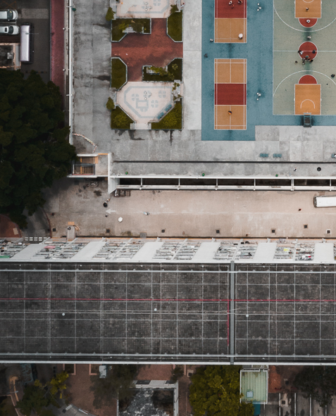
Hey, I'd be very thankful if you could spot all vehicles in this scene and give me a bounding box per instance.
[0,9,16,21]
[0,24,19,35]
[312,195,336,207]
[19,22,33,64]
